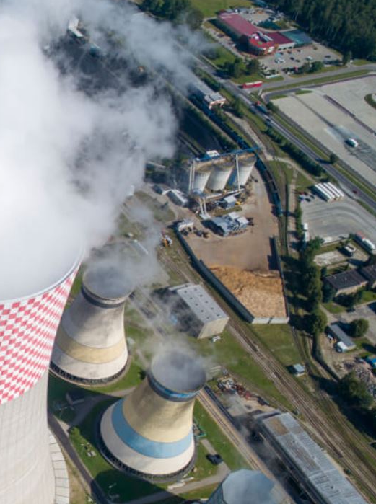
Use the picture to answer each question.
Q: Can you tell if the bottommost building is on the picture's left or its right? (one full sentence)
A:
It is on the right.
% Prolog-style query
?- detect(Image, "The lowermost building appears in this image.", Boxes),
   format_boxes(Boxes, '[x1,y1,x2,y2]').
[248,409,365,504]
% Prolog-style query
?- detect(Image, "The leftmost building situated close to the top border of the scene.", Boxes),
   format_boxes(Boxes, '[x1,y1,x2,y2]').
[68,25,95,46]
